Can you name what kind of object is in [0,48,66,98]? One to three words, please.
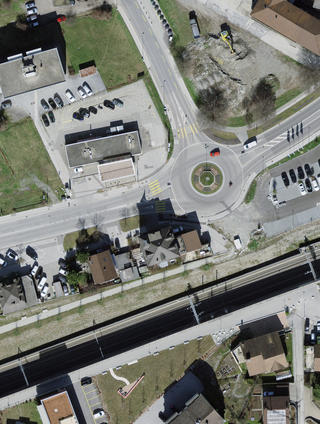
building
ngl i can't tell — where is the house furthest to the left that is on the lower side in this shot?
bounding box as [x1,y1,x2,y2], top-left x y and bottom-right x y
[0,278,26,314]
